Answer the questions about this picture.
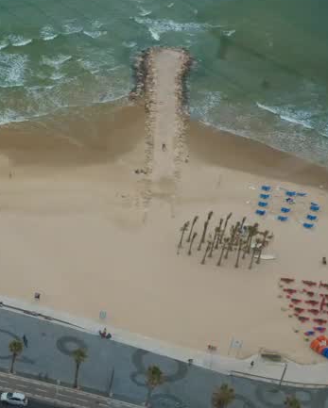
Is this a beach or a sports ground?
beach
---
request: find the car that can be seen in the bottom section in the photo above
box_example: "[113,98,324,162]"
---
[0,391,28,408]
